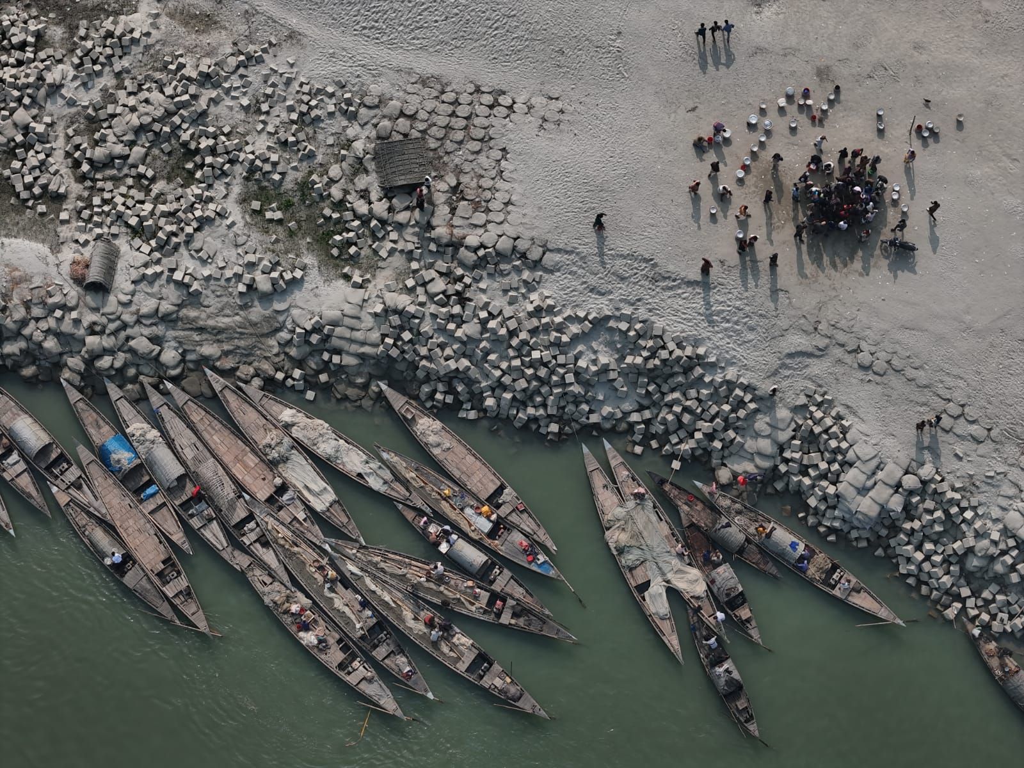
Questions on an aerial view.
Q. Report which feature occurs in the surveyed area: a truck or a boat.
boat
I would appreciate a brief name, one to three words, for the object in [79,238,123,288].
shed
